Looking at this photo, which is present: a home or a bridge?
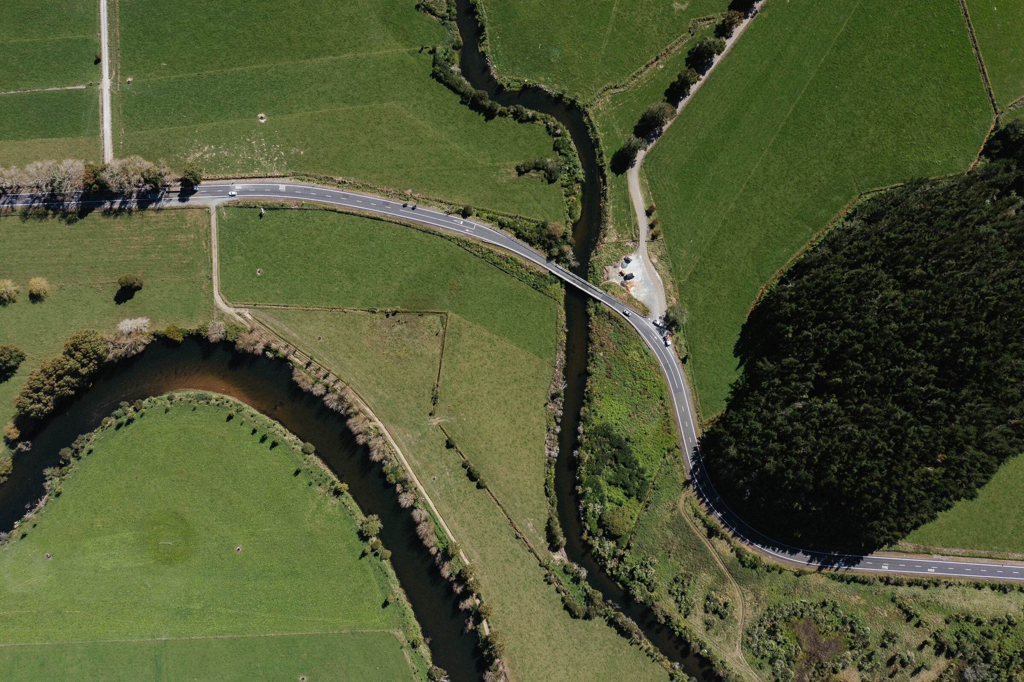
bridge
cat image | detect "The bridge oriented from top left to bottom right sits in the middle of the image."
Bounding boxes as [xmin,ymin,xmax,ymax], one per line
[552,263,606,301]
